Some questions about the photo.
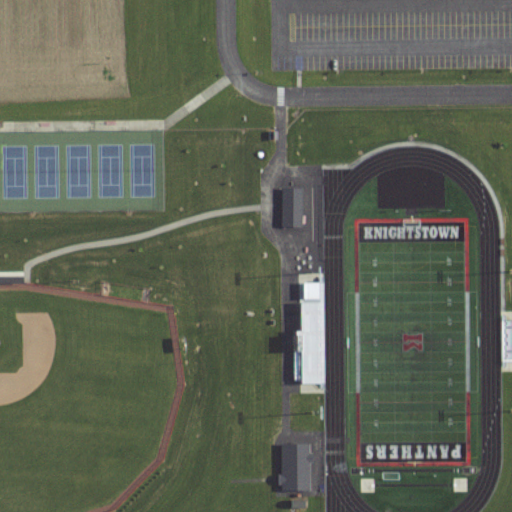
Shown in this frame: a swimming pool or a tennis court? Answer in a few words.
tennis court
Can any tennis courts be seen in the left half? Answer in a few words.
Yes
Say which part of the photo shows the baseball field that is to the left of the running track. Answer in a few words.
bottom left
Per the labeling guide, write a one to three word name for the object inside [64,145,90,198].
tennis court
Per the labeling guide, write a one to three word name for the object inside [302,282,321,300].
building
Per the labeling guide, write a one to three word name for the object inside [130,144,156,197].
tennis court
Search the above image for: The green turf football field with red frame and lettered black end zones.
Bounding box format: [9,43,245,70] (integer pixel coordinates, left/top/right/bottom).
[344,174,481,512]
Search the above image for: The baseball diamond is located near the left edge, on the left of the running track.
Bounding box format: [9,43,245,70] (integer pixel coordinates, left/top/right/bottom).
[0,284,186,512]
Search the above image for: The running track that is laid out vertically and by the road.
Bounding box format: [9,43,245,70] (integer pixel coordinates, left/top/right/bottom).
[326,147,499,512]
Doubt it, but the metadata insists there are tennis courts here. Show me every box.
[64,145,90,198]
[2,146,27,198]
[34,145,60,198]
[130,144,156,197]
[98,144,124,197]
